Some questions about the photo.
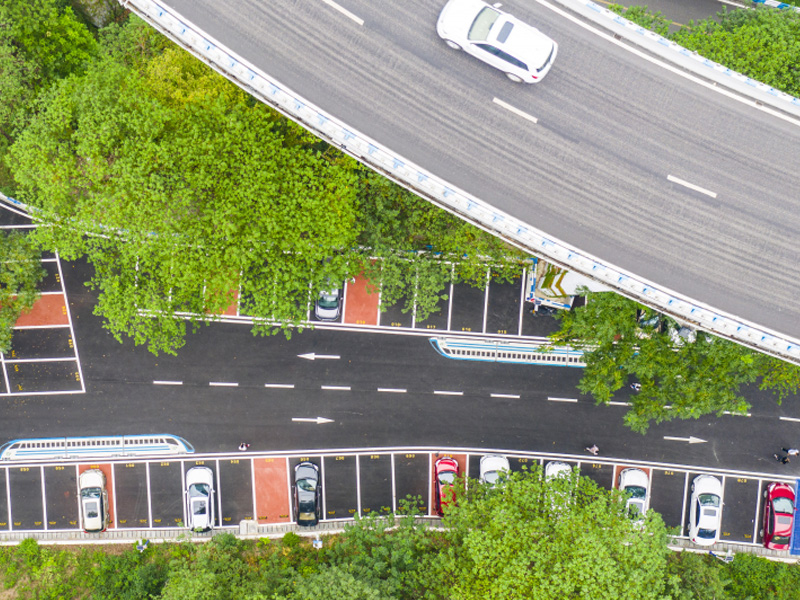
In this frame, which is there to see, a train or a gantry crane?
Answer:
train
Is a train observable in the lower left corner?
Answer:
Yes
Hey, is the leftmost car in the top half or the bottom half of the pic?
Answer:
bottom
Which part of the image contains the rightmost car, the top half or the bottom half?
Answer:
bottom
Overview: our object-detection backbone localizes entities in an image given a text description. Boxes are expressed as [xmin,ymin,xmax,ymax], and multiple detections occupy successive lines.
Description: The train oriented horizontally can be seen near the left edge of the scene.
[0,430,194,462]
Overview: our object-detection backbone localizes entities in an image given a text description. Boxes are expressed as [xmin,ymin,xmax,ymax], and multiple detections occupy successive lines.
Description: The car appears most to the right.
[758,481,798,550]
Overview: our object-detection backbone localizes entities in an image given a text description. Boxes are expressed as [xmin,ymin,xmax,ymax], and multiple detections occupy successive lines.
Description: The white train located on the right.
[430,338,617,374]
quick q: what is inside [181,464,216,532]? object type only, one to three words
car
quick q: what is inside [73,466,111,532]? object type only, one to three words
car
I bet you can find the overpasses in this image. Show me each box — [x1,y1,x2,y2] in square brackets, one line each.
[119,0,800,367]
